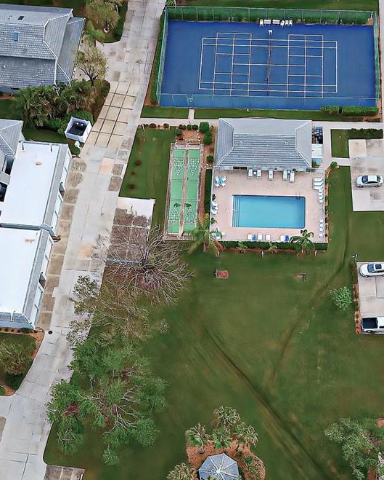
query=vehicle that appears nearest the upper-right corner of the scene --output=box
[356,174,384,188]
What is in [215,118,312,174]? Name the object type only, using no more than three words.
building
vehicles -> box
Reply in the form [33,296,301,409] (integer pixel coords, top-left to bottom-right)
[356,174,384,188]
[359,260,384,276]
[364,317,384,332]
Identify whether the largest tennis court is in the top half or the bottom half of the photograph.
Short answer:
top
